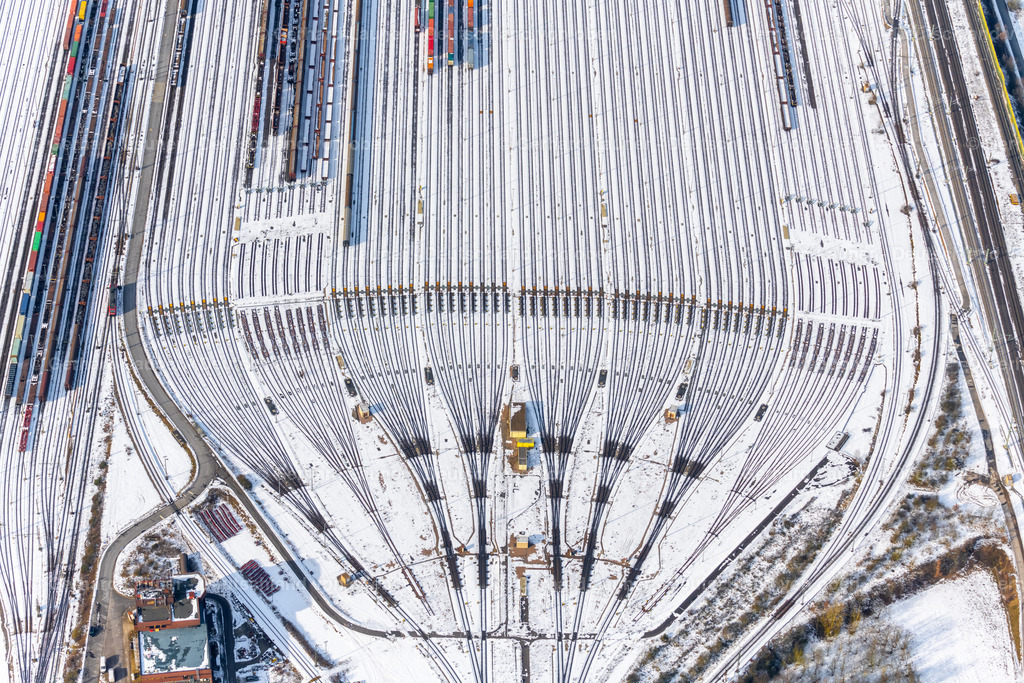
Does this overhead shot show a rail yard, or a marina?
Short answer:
rail yard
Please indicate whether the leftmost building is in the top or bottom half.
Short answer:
bottom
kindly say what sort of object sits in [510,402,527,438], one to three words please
building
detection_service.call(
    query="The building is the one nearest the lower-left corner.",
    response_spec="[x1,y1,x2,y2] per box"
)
[136,554,215,683]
